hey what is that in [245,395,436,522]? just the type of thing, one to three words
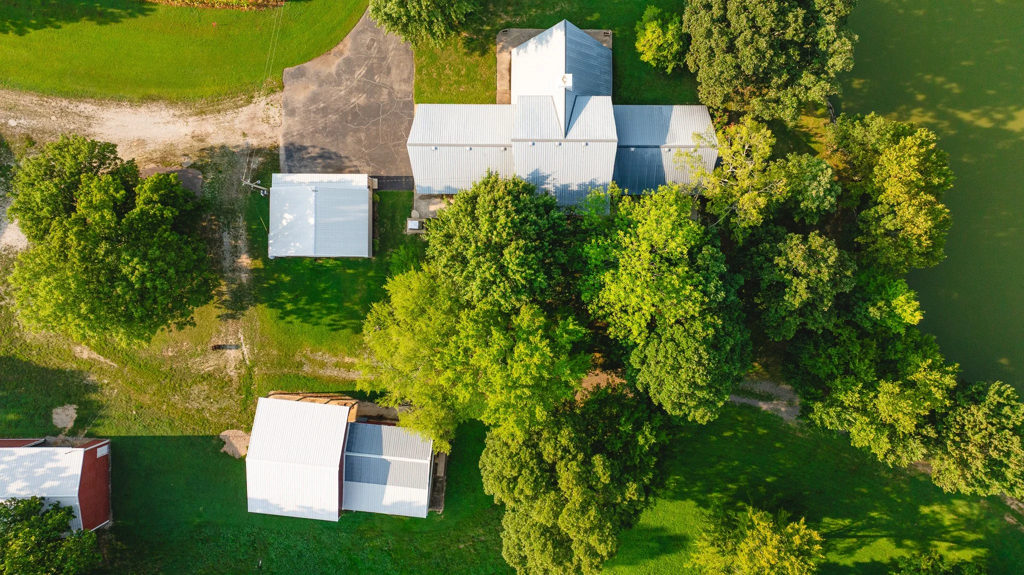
barn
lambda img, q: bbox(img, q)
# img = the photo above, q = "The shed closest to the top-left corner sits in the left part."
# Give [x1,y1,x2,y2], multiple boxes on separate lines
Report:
[269,173,374,257]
